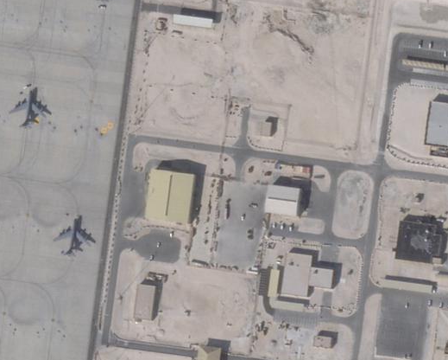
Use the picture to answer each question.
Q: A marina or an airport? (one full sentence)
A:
This image shows an airport.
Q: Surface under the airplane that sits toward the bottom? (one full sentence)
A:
The airplane that sits toward the bottom is on the apron.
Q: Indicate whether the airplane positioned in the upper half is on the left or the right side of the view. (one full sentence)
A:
It is on the left.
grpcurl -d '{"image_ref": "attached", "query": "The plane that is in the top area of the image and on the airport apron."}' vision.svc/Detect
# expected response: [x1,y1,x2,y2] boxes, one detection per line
[10,91,44,126]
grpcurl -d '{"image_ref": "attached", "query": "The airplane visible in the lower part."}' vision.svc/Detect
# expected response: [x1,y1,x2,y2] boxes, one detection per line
[53,219,90,255]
